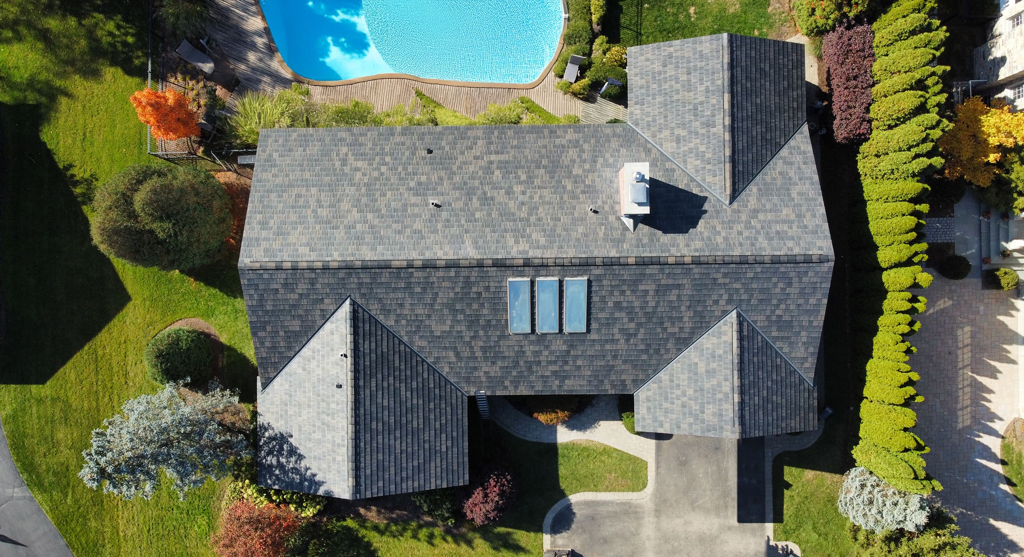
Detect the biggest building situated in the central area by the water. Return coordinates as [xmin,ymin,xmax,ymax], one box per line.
[237,32,836,500]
